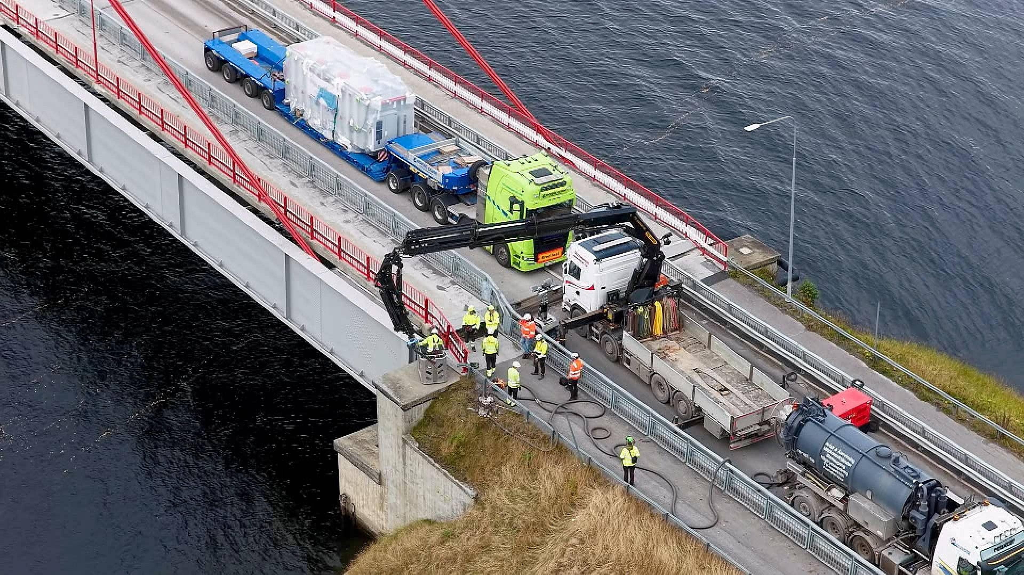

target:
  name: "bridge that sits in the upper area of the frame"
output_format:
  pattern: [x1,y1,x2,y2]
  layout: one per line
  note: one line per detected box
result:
[0,0,706,398]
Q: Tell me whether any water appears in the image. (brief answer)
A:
Yes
